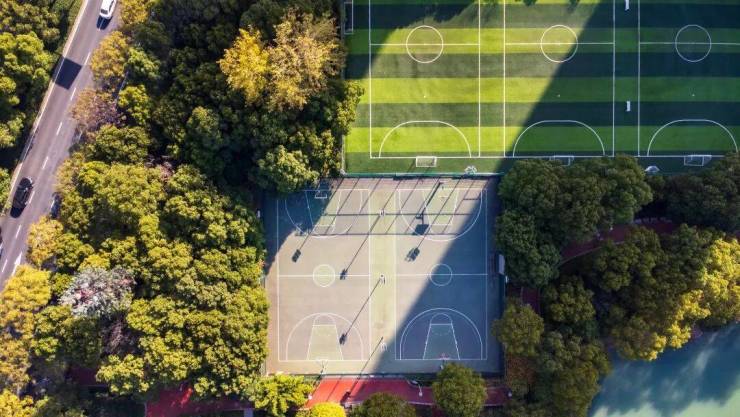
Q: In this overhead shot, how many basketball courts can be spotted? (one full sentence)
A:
My tally gives 2 basketball courts in this view.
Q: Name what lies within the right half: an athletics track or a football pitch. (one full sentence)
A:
Visible within the right half is a football pitch.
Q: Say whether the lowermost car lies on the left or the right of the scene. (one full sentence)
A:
It is on the left.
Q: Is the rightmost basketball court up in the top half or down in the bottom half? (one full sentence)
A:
Seen from above, the rightmost basketball court lies in the bottom half of the view.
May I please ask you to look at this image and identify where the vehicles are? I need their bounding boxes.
[101,0,119,20]
[12,177,35,207]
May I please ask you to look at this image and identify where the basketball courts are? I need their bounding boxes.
[396,189,487,359]
[278,189,370,361]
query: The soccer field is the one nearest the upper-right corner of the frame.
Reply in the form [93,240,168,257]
[627,0,740,173]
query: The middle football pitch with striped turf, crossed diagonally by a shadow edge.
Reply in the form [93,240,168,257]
[492,0,627,174]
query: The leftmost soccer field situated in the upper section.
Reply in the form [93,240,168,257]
[345,0,492,174]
